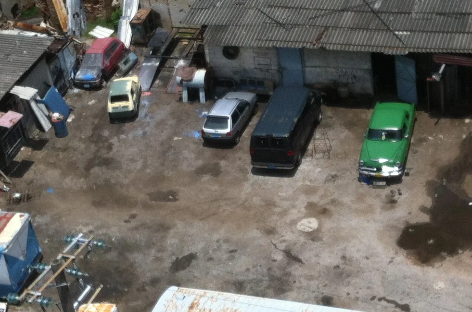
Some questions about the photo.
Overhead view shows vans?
Yes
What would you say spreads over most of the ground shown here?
paved ground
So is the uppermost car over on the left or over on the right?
left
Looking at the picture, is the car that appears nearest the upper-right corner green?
Yes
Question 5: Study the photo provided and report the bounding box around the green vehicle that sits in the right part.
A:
[360,104,417,177]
